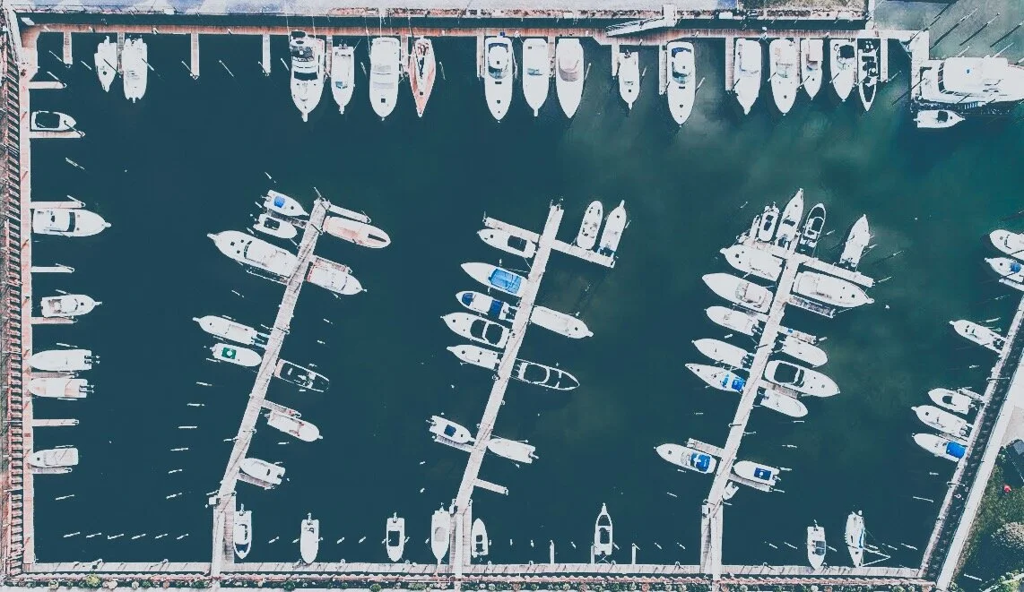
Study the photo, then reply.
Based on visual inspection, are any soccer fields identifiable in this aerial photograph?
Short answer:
No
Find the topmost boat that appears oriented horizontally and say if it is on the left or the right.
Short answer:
right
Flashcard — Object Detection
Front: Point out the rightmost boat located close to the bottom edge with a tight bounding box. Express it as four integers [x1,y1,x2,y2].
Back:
[843,504,888,567]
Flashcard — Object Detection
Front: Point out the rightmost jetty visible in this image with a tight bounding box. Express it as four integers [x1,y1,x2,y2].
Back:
[920,278,1024,577]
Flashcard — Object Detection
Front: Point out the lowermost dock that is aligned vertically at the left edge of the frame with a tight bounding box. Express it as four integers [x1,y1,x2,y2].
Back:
[18,47,87,563]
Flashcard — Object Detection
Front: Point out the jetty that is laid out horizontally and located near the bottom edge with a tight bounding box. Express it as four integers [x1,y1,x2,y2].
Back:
[23,537,921,575]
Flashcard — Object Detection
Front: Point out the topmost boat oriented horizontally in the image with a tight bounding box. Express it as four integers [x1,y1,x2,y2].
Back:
[908,54,1024,111]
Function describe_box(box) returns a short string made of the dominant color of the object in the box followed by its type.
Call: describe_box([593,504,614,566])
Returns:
white boat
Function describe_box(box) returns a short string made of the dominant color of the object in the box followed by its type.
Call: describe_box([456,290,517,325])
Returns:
white boat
